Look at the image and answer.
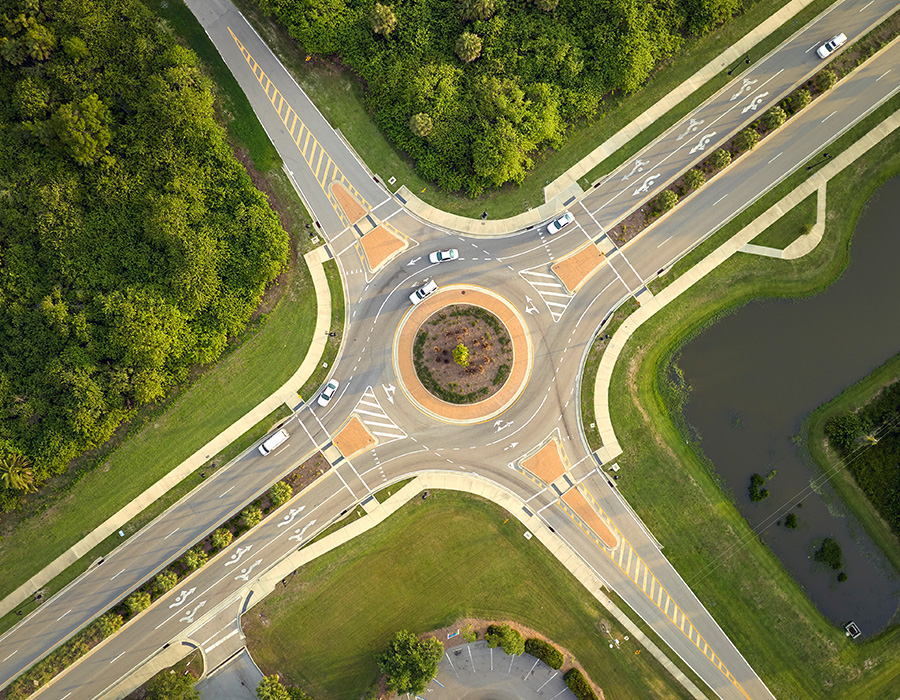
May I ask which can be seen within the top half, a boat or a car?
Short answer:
car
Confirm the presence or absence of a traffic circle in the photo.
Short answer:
Yes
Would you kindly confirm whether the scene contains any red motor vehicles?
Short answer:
No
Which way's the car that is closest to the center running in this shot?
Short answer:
diagonally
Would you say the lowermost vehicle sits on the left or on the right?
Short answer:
left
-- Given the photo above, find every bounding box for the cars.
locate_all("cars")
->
[318,378,340,406]
[547,212,576,235]
[817,30,850,59]
[430,250,459,263]
[410,280,438,304]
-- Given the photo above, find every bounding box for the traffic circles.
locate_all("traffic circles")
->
[348,231,579,475]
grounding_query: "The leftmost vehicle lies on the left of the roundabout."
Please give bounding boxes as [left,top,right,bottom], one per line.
[259,428,290,456]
